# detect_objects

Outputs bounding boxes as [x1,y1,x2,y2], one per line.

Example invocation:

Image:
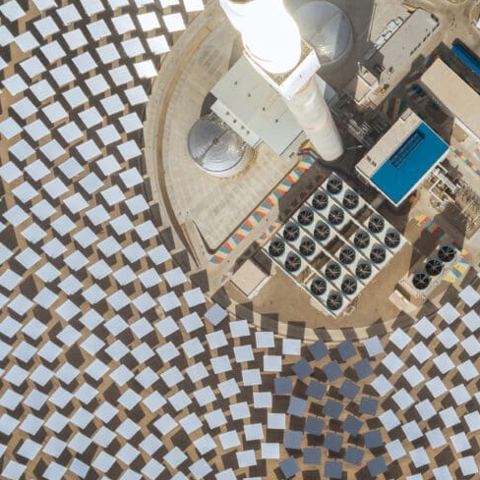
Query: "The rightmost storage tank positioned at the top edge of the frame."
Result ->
[297,1,359,71]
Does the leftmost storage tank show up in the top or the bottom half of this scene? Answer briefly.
top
